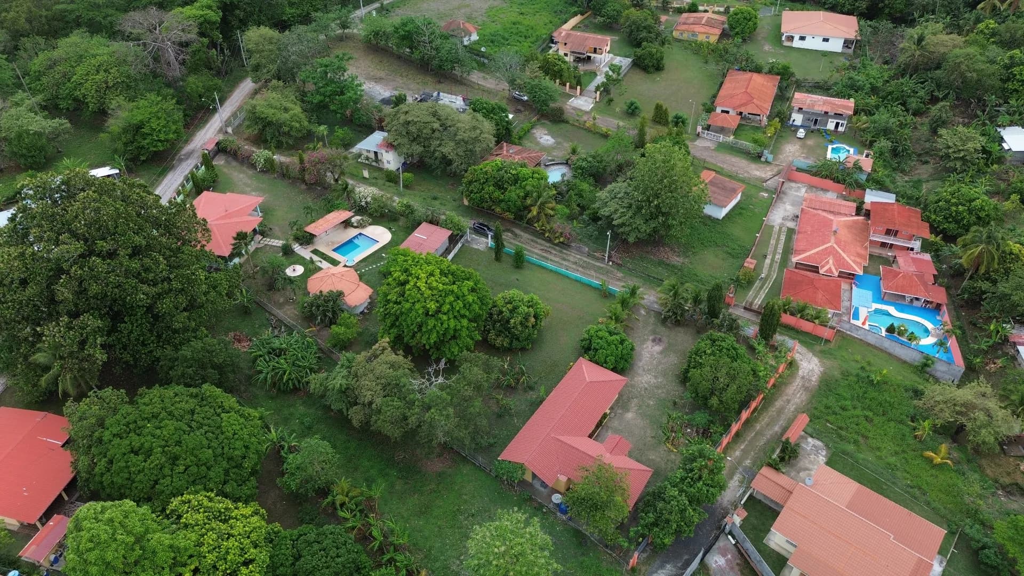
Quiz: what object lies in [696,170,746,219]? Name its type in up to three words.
shed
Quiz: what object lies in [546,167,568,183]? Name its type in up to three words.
swimming pool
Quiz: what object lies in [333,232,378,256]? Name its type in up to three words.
swimming pool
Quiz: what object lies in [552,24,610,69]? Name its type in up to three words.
house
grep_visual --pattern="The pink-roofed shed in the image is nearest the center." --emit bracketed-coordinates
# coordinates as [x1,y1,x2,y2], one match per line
[400,222,453,265]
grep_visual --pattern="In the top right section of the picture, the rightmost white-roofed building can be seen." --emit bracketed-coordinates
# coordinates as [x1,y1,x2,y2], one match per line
[996,125,1024,161]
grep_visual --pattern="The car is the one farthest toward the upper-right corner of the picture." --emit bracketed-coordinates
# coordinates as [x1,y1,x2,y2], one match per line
[795,125,808,139]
